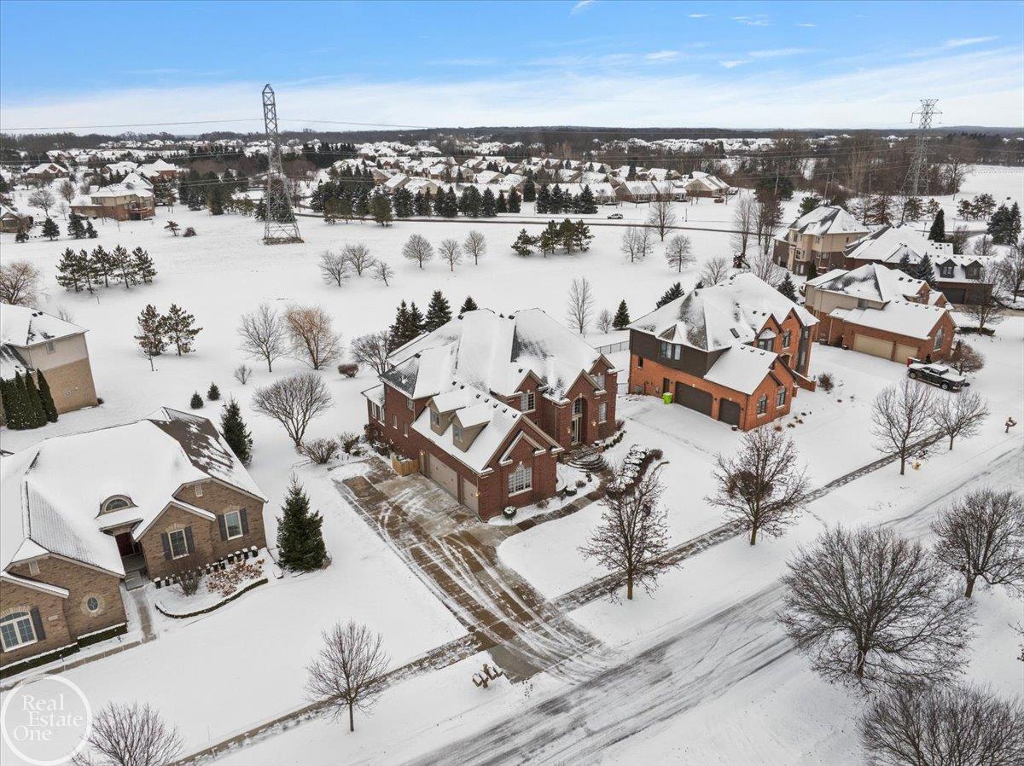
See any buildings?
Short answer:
Yes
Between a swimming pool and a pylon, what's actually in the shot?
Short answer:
pylon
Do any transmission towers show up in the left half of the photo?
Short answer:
Yes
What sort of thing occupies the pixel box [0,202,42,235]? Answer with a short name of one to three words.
house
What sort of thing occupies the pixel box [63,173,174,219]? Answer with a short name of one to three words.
house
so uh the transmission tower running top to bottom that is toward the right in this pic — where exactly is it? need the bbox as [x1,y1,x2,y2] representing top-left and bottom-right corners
[897,93,946,197]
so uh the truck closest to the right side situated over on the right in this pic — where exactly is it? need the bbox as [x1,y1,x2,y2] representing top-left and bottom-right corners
[907,367,970,390]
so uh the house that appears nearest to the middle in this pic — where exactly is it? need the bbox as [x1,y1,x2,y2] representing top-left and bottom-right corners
[361,306,624,521]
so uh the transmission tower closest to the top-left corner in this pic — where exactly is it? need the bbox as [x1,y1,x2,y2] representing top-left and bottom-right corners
[259,83,299,243]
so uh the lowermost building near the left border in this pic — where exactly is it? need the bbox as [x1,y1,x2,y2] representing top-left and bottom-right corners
[0,407,271,663]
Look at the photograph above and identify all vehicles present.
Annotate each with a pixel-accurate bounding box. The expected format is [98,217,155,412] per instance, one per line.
[608,214,623,220]
[907,367,970,390]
